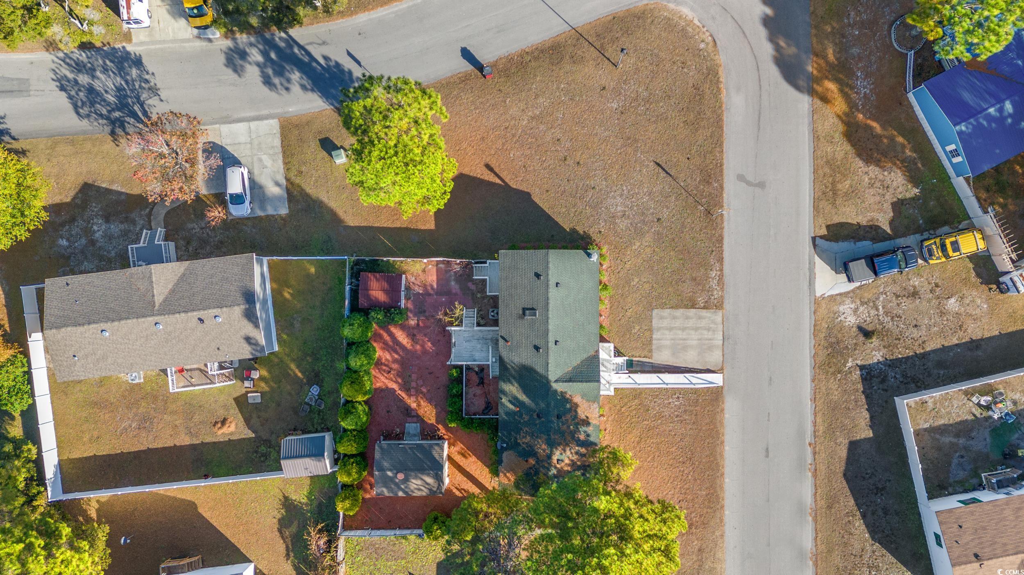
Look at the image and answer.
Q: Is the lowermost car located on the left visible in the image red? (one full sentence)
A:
No, from above the lowermost car located on the left looks white.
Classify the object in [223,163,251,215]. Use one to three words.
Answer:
car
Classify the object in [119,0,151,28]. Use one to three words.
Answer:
van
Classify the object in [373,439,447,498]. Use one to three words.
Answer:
shed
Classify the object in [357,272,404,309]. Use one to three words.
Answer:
shed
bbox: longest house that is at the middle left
[43,252,280,383]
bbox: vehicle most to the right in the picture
[999,266,1024,297]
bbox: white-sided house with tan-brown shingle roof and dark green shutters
[917,482,1024,575]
